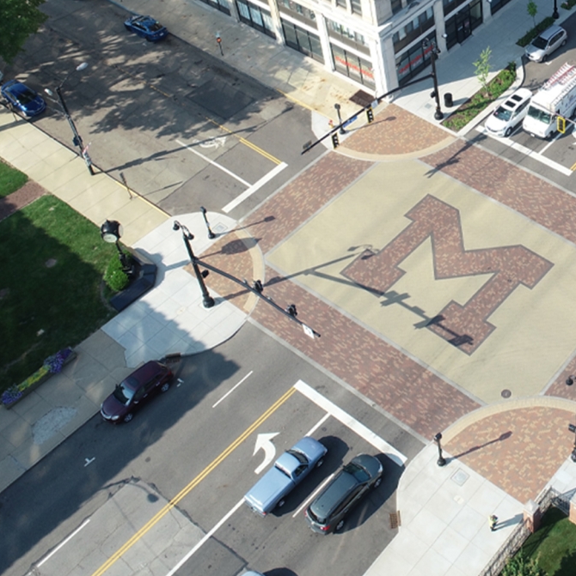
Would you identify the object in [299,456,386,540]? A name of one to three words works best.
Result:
car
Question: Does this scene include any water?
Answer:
No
